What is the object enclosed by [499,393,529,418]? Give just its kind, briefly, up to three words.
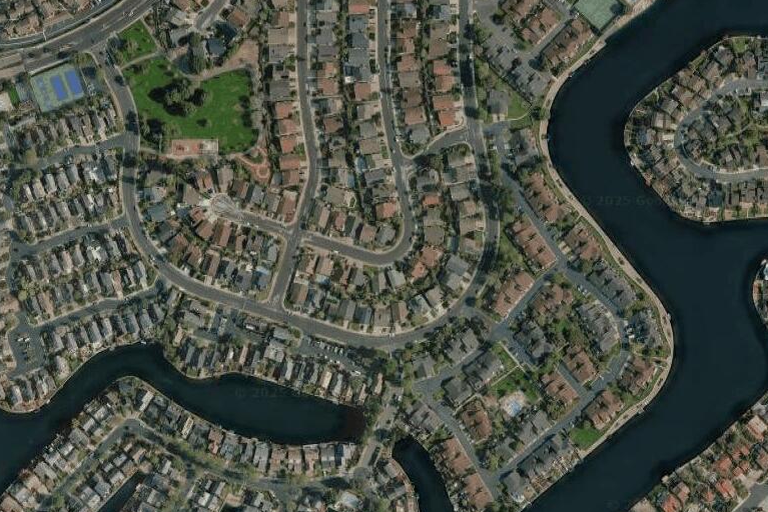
swimming pool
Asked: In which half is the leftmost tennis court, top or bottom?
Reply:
top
